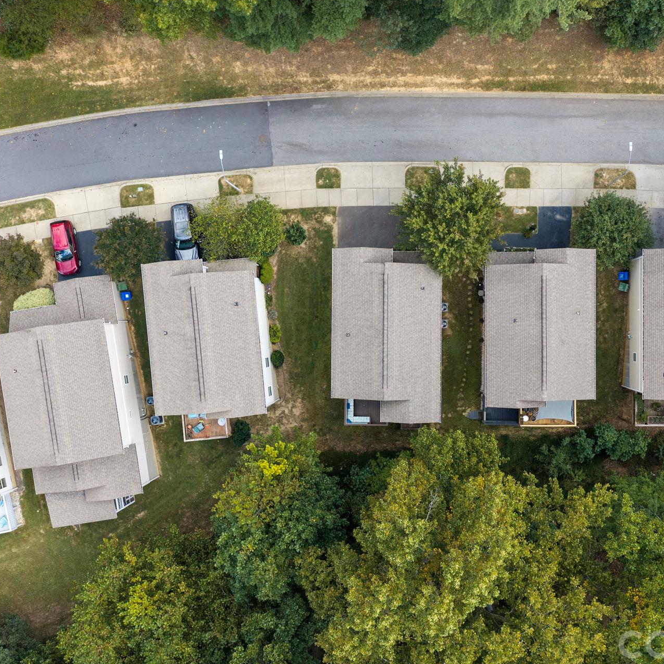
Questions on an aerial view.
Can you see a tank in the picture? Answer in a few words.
No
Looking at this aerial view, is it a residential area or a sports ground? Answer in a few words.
residential area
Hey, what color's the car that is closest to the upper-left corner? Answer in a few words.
red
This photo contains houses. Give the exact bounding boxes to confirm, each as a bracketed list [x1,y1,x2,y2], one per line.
[0,274,162,528]
[139,256,277,419]
[479,248,598,409]
[624,248,664,399]
[330,247,443,424]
